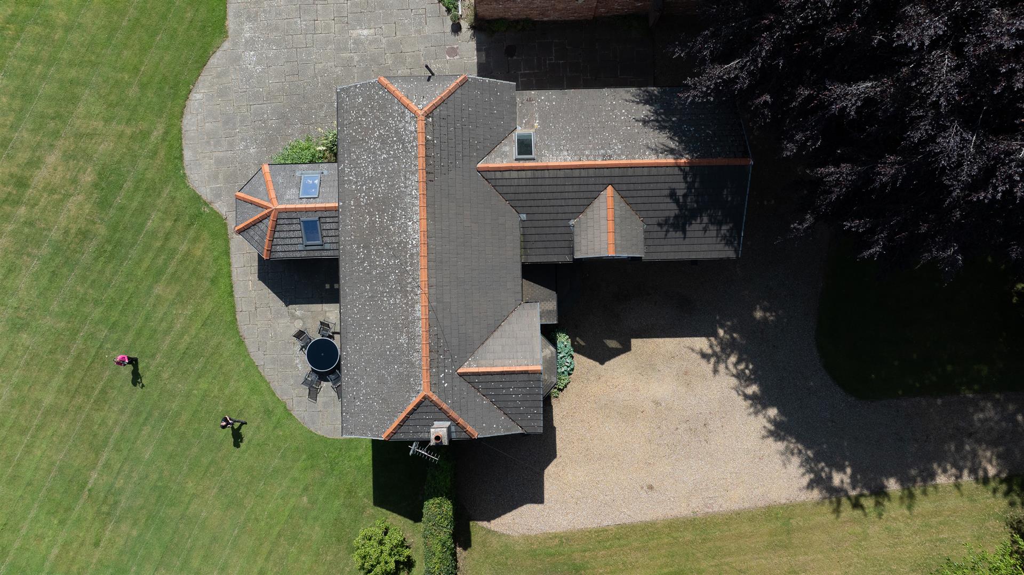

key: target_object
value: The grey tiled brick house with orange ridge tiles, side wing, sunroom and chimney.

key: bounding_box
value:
[233,63,752,447]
